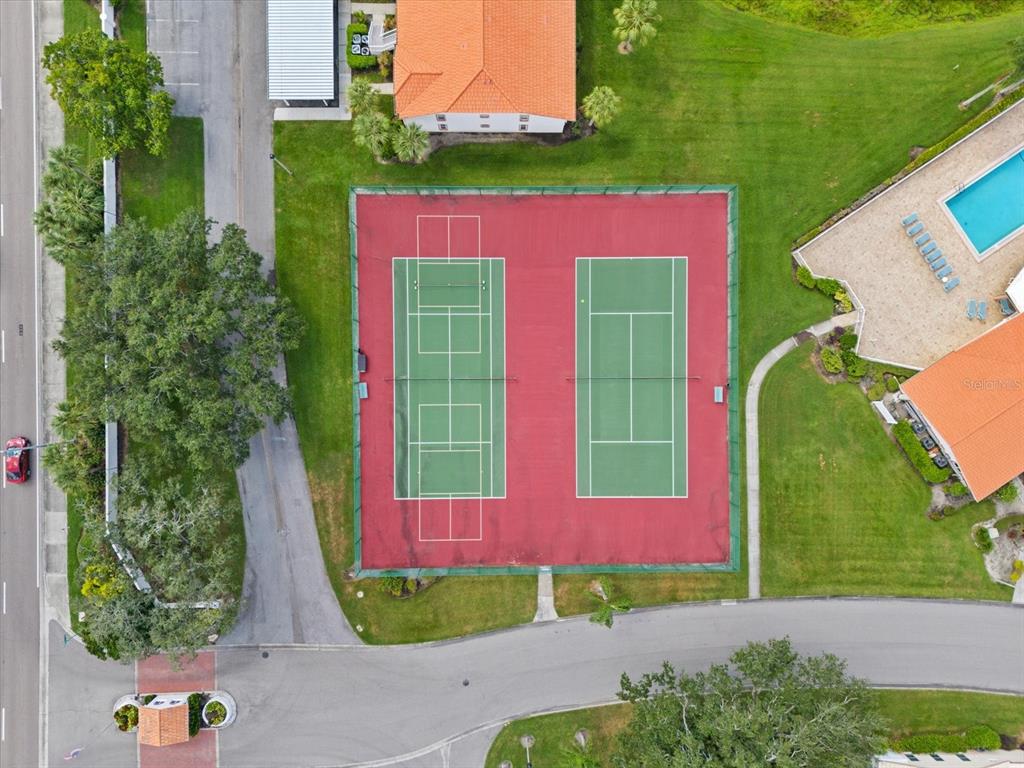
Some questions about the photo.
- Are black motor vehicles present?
No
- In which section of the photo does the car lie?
left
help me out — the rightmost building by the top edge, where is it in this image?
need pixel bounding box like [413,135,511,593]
[391,0,577,132]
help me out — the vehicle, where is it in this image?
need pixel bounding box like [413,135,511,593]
[2,438,32,486]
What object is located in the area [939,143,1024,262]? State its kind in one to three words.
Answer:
swimming pool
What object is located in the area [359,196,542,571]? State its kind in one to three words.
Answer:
tennis court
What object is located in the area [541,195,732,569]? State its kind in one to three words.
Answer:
tennis court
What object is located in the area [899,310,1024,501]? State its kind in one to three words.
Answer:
building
